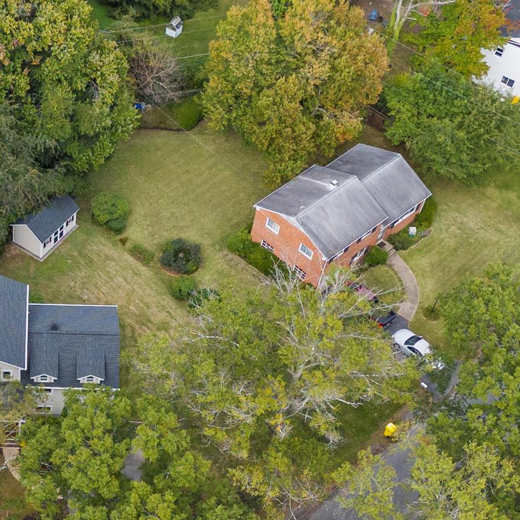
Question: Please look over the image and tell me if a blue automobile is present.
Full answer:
No, there isn't any blue automobile down there.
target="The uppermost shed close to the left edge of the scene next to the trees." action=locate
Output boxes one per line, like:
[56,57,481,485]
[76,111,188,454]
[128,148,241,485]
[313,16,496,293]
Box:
[9,191,83,264]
